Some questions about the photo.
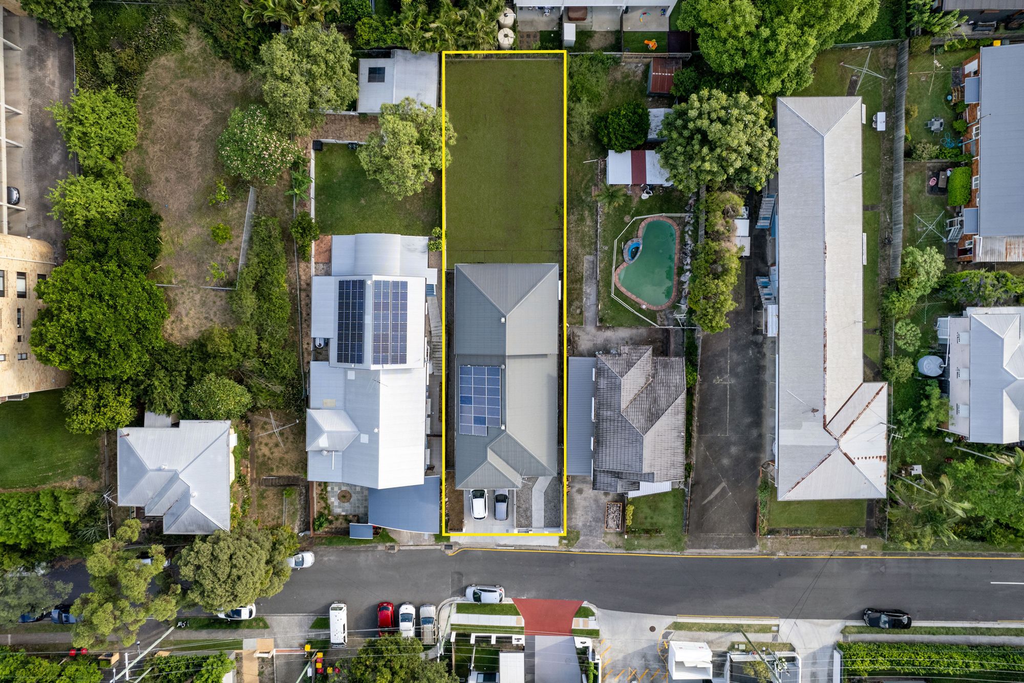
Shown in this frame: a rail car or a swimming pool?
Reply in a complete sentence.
I can see a swimming pool in this picture.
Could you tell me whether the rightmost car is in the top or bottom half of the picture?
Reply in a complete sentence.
The bottom half of the photo is where the rightmost car is.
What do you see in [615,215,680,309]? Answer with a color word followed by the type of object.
green swimming pool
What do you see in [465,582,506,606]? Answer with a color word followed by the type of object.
white car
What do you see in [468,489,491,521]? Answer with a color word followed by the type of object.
white car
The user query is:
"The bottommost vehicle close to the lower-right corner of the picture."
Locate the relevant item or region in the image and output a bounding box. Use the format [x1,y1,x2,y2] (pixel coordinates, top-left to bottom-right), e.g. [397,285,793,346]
[861,605,912,631]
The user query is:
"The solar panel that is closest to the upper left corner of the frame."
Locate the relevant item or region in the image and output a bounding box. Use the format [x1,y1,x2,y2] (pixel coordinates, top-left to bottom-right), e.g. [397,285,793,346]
[368,66,384,82]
